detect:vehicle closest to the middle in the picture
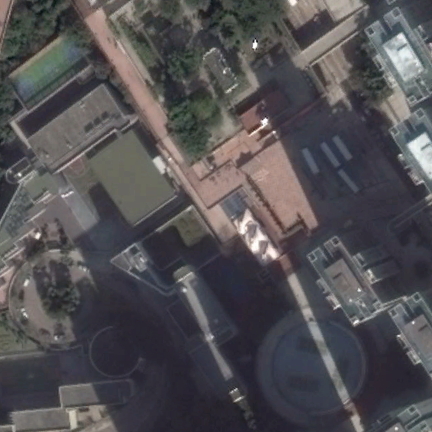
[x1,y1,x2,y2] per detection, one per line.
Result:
[301,146,319,174]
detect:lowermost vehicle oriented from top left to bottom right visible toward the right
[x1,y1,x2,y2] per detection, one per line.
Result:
[336,167,359,193]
